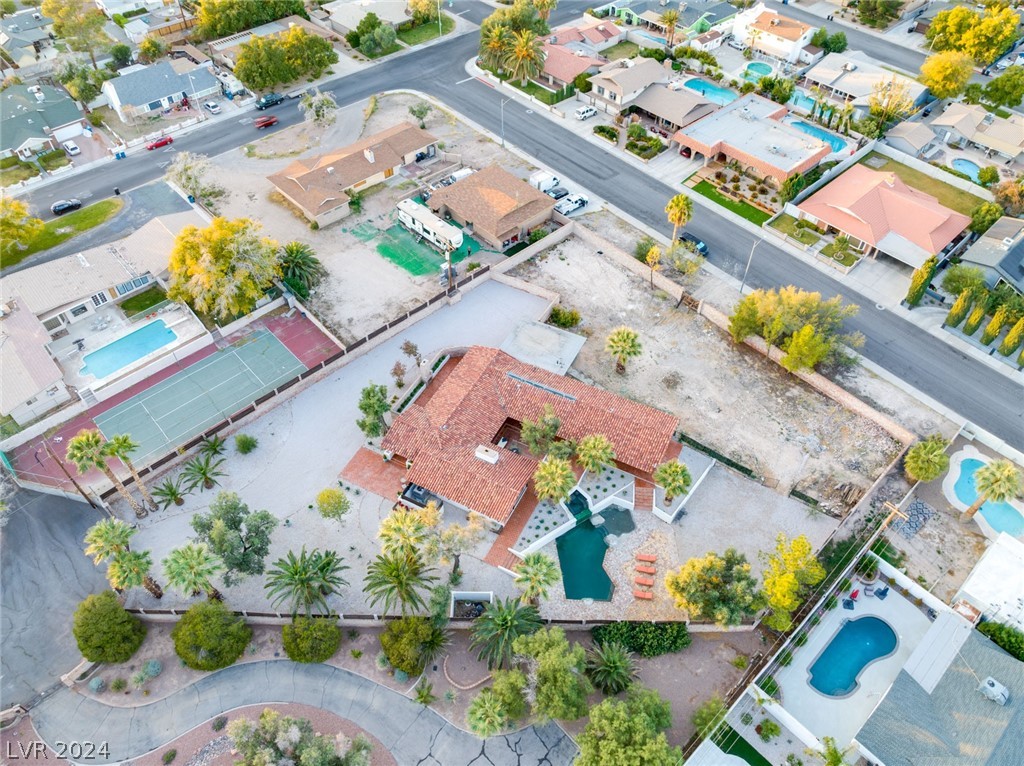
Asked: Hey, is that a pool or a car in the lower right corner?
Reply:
pool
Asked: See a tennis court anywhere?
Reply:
Yes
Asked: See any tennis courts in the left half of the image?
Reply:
Yes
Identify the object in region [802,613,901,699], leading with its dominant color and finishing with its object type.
blue swimming pool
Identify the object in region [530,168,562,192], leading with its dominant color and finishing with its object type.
white truck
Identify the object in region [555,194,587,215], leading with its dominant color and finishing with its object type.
white vehicle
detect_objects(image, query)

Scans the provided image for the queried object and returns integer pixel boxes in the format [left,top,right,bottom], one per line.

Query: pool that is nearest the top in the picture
[628,29,669,45]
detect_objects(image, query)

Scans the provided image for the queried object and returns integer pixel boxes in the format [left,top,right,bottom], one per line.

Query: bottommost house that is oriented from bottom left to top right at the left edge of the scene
[0,208,221,424]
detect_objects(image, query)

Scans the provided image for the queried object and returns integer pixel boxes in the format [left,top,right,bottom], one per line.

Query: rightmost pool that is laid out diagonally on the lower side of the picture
[951,455,1024,540]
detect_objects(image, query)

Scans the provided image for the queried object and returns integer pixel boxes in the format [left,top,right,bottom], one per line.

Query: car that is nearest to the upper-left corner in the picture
[62,140,80,156]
